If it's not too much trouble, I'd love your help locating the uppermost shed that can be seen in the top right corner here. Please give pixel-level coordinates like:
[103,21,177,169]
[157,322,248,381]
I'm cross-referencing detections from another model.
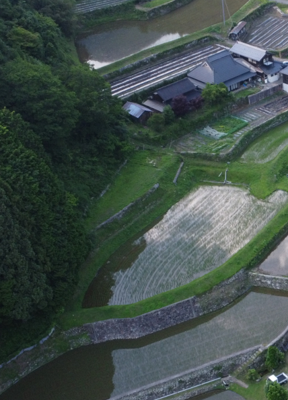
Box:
[227,19,247,47]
